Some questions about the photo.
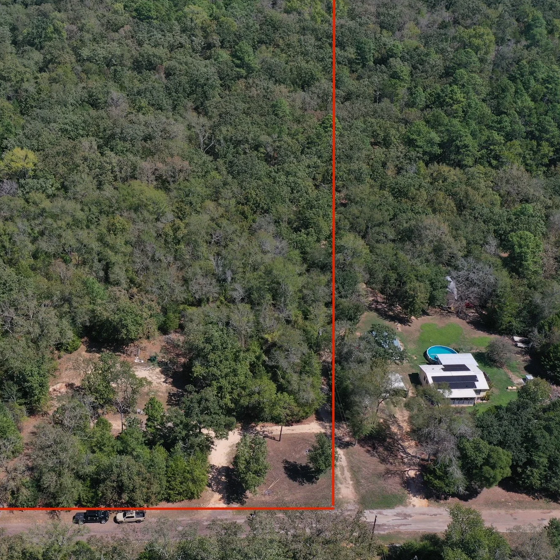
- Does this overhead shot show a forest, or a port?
forest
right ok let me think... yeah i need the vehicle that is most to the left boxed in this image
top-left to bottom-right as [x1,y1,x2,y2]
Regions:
[72,508,108,525]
